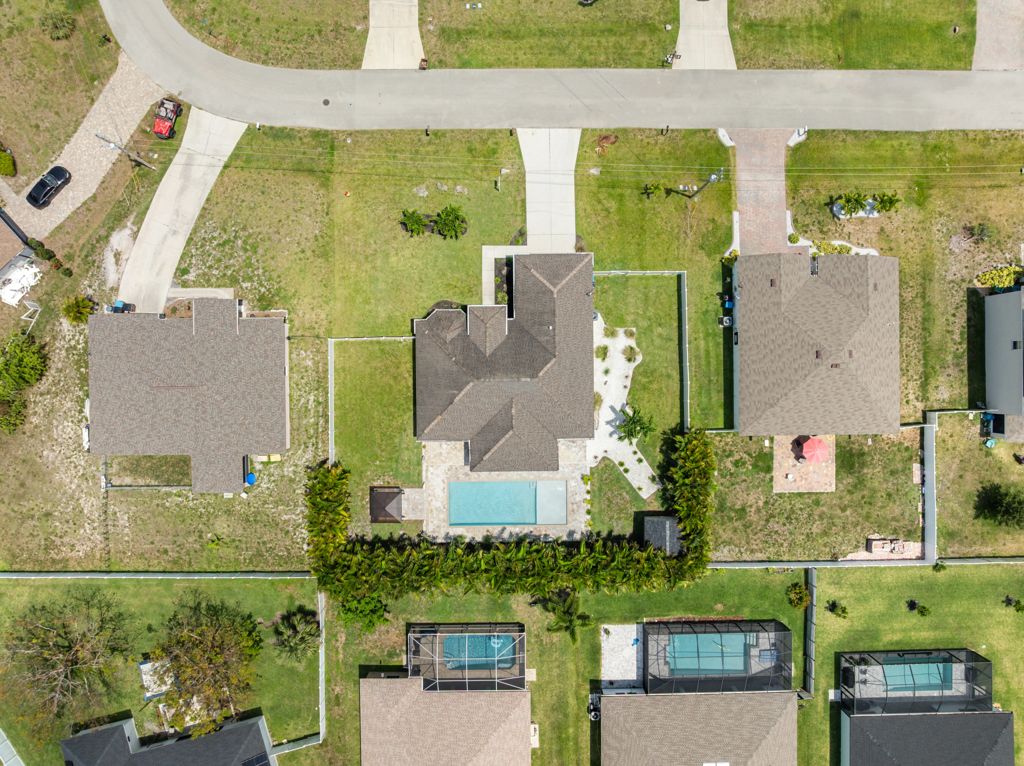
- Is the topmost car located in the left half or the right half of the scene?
left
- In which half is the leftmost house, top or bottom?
top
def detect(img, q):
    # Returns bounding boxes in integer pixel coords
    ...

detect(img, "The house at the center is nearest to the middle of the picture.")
[416,253,594,472]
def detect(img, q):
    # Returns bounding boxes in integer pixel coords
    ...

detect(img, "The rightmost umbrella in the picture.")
[802,437,829,463]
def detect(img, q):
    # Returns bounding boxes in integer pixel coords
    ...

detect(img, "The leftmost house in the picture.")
[0,210,36,284]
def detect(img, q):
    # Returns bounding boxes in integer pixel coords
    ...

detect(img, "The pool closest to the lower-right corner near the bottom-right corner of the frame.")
[881,664,954,693]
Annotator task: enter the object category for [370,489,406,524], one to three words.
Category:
gazebo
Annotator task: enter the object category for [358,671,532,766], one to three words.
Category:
house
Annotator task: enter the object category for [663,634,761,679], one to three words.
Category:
swimming pool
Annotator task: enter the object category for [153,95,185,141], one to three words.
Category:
car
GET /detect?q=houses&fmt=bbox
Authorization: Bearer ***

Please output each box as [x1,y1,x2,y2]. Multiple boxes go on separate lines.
[0,210,36,284]
[358,671,532,766]
[59,714,278,766]
[841,707,1014,766]
[600,686,798,766]
[85,296,291,494]
[734,254,900,436]
[986,284,1024,445]
[416,253,594,472]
